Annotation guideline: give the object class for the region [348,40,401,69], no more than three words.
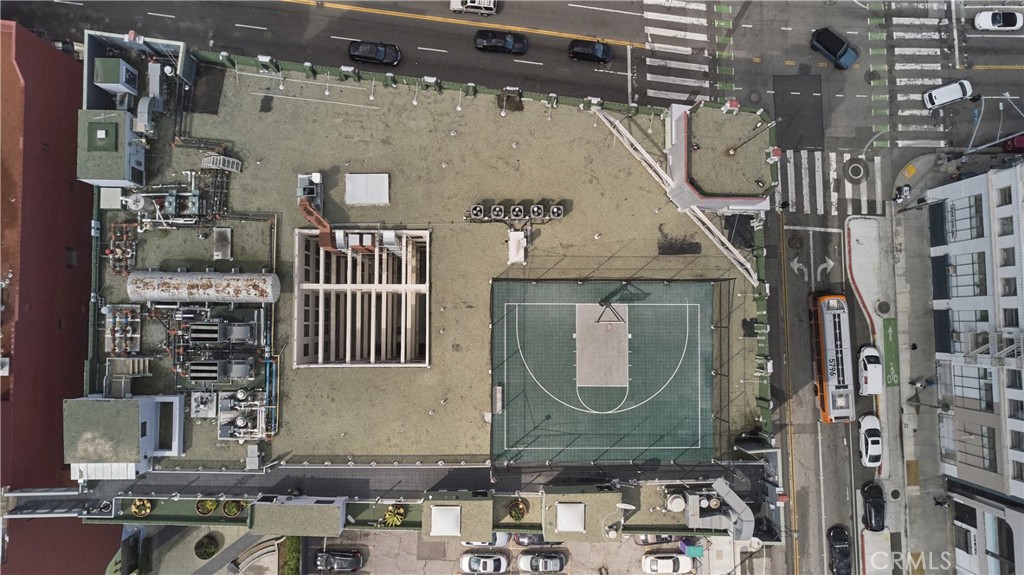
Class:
car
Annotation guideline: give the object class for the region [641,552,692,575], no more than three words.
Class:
car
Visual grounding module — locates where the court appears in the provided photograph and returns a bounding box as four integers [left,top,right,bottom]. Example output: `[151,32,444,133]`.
[491,282,713,463]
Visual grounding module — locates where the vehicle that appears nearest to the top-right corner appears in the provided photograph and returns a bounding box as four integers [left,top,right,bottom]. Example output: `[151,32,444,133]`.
[972,8,1020,34]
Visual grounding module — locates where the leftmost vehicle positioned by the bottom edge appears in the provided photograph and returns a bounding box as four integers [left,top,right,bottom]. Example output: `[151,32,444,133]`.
[316,548,364,574]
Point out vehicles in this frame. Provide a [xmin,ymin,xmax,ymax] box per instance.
[567,38,612,65]
[316,548,364,574]
[853,347,881,395]
[808,291,856,423]
[1000,132,1024,156]
[348,40,401,69]
[641,552,692,575]
[811,27,855,69]
[972,8,1020,34]
[921,77,972,113]
[474,30,527,56]
[450,0,498,19]
[823,523,850,575]
[461,551,509,575]
[515,527,564,551]
[858,480,885,531]
[517,550,565,575]
[47,39,84,64]
[461,527,509,551]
